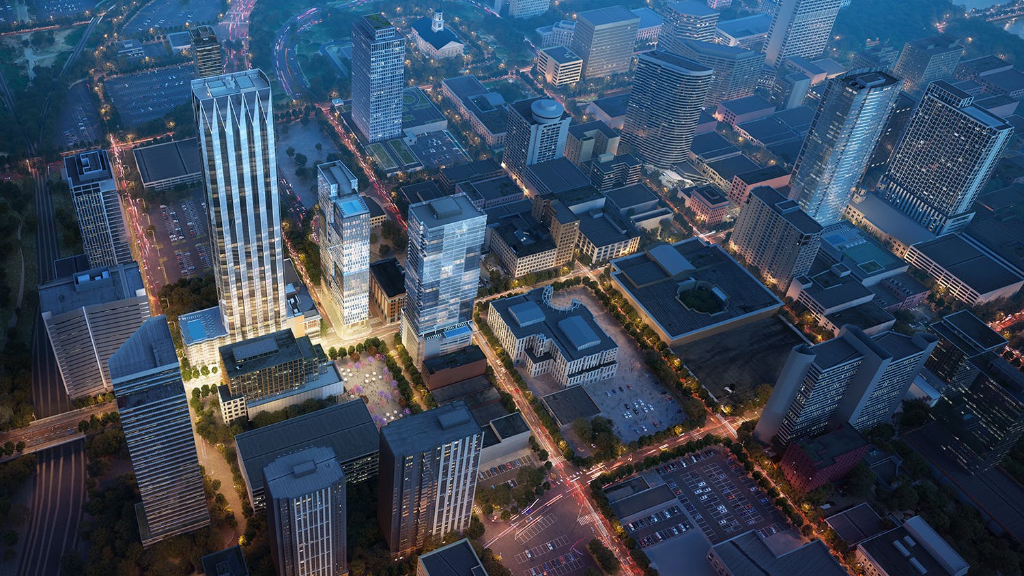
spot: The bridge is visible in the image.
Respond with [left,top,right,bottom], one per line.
[0,389,121,455]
